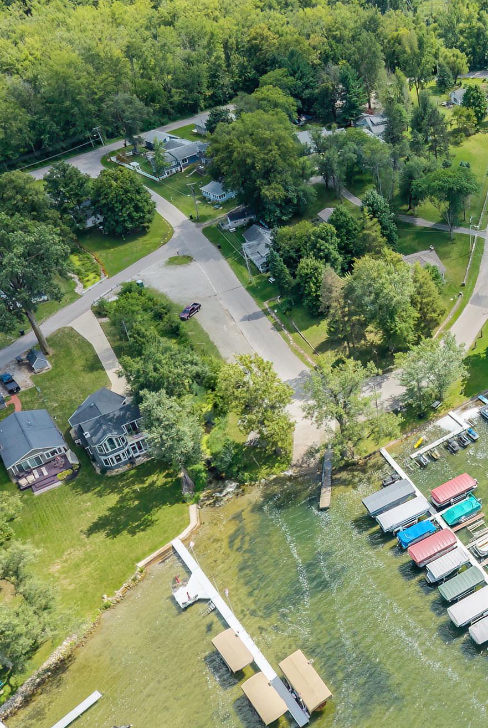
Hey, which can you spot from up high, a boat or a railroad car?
boat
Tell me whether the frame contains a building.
Yes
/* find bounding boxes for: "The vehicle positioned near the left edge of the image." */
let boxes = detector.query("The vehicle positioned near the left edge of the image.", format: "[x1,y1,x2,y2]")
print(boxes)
[0,375,17,394]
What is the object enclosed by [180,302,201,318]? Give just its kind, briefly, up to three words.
vehicle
